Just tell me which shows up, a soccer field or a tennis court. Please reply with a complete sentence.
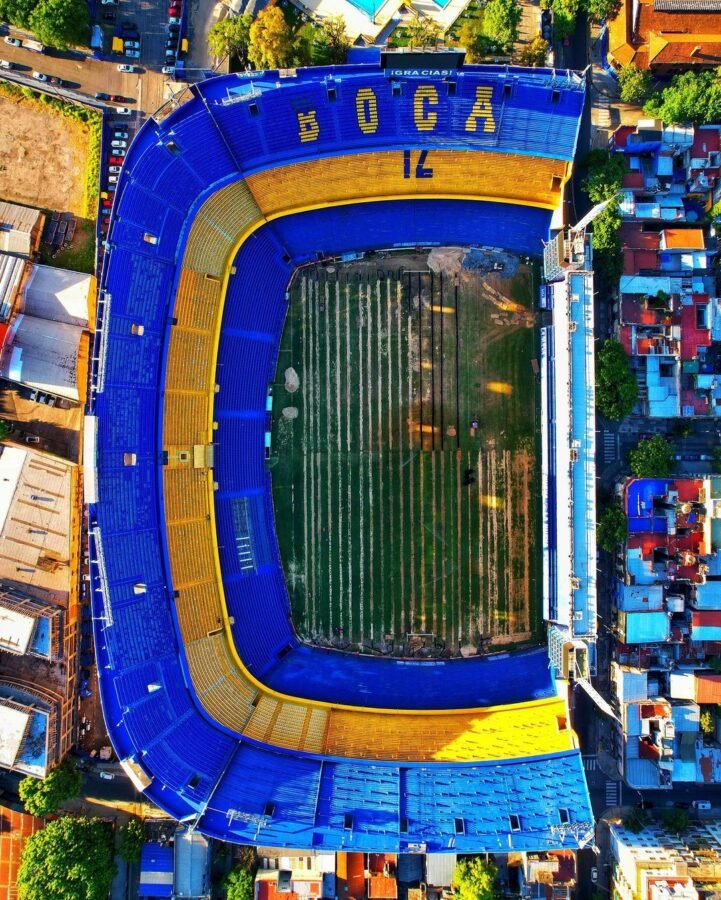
Looking from above, you can make out a soccer field.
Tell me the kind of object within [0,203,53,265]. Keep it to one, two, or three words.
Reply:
building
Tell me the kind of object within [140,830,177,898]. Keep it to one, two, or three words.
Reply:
house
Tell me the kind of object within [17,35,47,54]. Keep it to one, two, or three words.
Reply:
vehicle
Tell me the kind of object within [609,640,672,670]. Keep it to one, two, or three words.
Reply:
house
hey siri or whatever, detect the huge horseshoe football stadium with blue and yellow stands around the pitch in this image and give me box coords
[84,47,603,857]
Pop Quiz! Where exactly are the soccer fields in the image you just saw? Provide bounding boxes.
[269,249,550,657]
